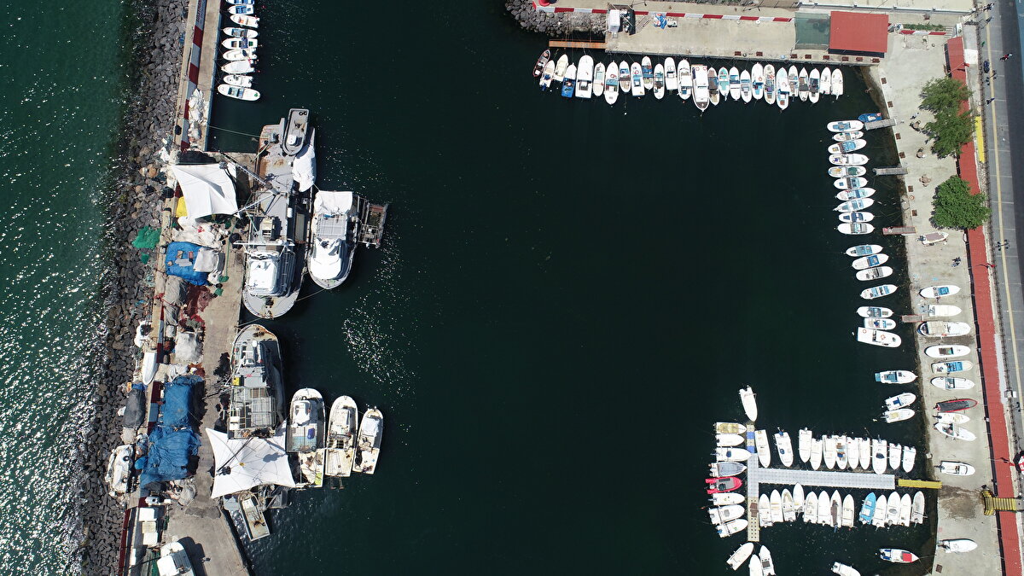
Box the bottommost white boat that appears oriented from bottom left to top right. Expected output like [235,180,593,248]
[727,544,753,570]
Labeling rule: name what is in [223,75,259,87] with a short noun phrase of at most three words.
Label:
boat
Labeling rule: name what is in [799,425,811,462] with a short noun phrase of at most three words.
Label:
boat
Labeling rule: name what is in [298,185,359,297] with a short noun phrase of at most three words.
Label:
vessel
